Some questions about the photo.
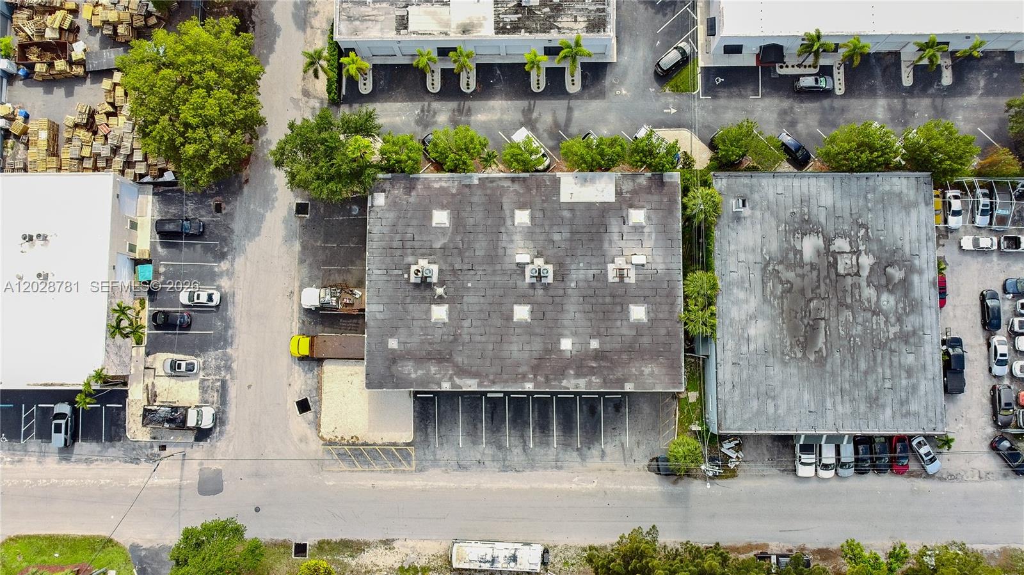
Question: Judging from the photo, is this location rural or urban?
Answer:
urban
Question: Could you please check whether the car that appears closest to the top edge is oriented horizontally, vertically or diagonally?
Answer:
diagonally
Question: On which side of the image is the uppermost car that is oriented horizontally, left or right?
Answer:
right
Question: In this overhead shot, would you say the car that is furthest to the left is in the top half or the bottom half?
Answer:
bottom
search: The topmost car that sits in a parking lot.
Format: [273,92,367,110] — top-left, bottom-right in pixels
[652,40,693,78]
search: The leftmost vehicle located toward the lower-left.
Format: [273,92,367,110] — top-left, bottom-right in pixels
[50,401,75,449]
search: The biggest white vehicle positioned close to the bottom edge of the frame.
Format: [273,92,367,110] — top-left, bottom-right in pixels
[450,539,548,572]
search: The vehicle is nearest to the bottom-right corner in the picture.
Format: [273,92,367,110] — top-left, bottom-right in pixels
[989,435,1024,477]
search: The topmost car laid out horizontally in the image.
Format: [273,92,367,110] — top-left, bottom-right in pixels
[792,72,835,93]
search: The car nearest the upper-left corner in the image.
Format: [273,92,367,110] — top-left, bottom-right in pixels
[153,215,205,236]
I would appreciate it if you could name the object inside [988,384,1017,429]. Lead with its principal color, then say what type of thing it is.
gray car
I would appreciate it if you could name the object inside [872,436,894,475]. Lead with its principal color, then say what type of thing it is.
black car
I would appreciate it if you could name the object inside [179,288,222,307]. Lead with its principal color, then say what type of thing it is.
white car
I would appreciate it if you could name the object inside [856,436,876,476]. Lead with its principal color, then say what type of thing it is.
black car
